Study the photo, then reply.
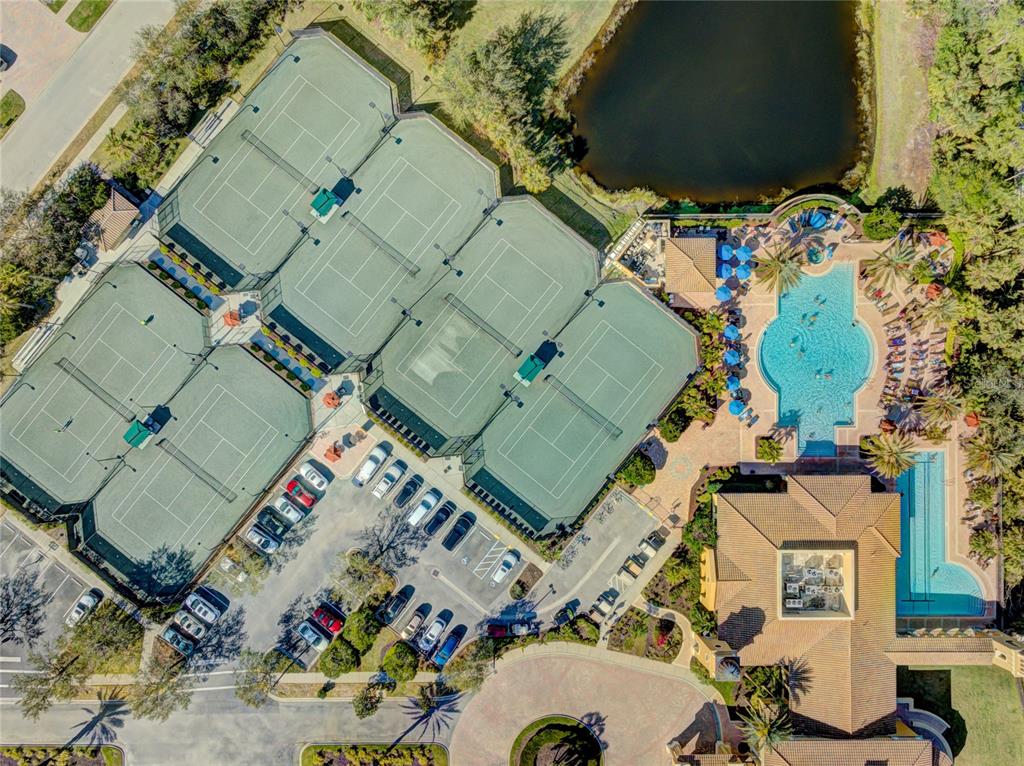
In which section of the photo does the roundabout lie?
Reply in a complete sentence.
The roundabout is located in the bottom region of the scene.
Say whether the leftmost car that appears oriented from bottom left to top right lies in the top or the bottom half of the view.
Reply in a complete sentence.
The bottom half of the photo is where the leftmost car that appears oriented from bottom left to top right is.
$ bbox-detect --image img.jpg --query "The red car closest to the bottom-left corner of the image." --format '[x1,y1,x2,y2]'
[309,607,342,636]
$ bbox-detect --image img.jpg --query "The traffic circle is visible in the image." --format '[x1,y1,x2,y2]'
[449,653,719,766]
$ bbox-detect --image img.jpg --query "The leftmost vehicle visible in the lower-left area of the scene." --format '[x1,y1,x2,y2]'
[65,594,94,626]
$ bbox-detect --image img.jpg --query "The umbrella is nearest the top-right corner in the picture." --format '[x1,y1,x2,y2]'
[927,231,945,248]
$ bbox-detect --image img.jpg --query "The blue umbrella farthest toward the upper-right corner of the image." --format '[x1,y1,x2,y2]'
[806,210,826,229]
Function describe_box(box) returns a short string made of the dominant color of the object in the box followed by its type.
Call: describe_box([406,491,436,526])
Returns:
white car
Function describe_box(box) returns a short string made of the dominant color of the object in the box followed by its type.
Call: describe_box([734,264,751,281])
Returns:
blue umbrella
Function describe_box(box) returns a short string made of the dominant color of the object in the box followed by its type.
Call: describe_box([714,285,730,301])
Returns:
blue umbrella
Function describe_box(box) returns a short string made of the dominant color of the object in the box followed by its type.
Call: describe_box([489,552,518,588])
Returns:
white car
